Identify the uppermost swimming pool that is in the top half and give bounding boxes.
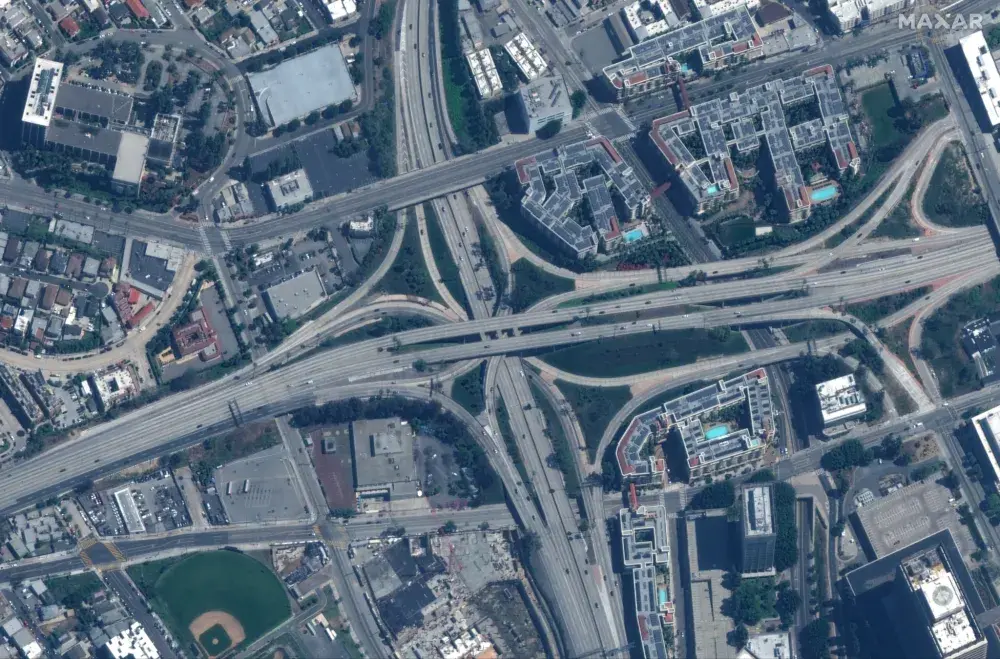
[672,57,704,78]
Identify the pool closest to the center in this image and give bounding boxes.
[616,219,650,248]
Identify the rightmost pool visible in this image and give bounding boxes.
[808,180,843,205]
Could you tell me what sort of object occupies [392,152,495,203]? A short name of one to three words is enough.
bridge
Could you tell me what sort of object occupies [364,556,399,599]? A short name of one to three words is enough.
shed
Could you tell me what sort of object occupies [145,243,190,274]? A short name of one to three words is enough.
building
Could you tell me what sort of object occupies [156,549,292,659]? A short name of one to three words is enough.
baseball field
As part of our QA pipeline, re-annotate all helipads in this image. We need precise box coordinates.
[933,585,953,603]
